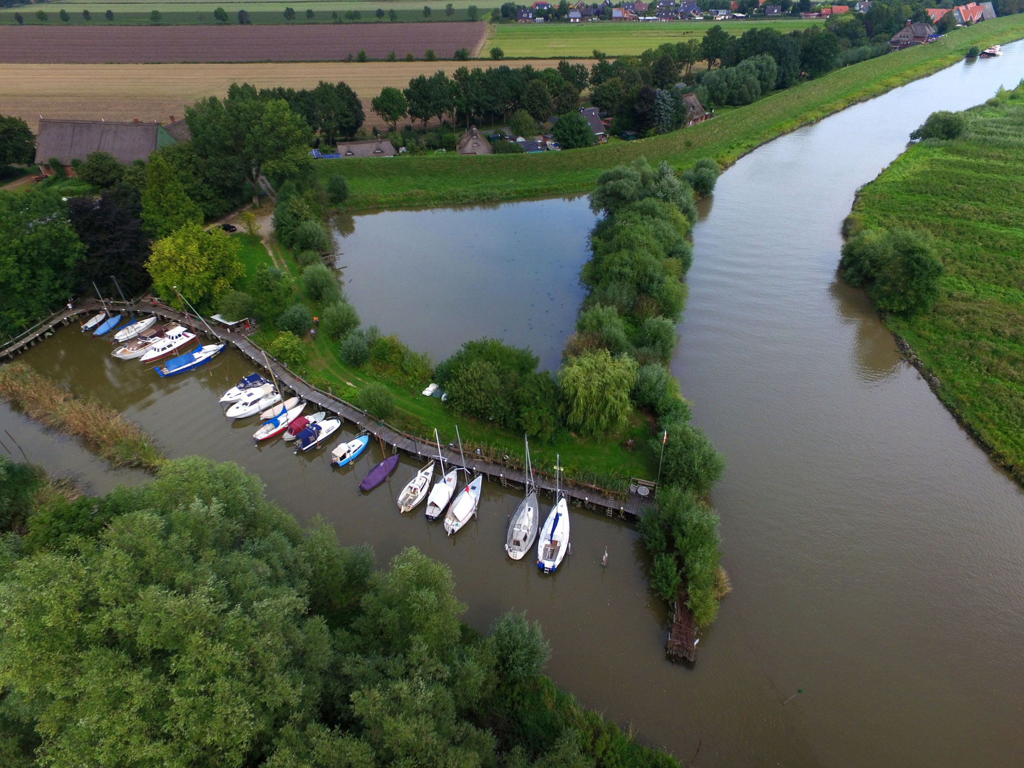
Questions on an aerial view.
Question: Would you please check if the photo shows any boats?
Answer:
Yes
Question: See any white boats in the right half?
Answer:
Yes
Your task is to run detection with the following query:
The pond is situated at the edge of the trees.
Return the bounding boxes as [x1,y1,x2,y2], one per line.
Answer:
[332,194,599,379]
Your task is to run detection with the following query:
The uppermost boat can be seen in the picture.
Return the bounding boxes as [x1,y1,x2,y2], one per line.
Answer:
[979,44,1007,61]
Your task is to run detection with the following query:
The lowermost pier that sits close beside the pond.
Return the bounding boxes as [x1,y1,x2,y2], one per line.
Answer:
[0,290,660,521]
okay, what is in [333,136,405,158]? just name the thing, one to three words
house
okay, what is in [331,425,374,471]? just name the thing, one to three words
boat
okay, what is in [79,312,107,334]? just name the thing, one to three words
boat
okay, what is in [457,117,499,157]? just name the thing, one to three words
house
